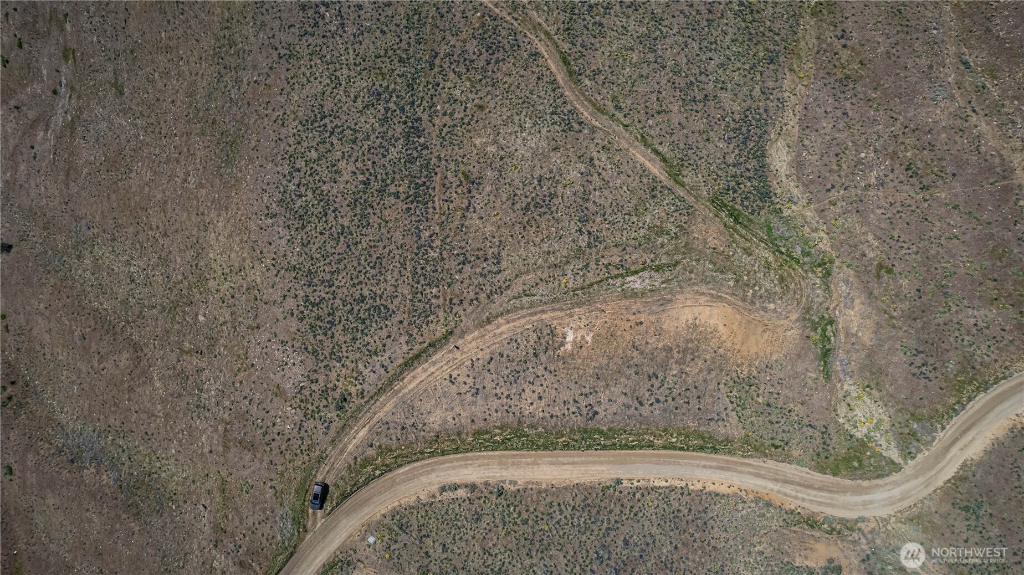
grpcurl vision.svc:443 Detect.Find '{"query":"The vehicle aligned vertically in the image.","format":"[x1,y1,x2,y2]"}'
[307,482,323,511]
